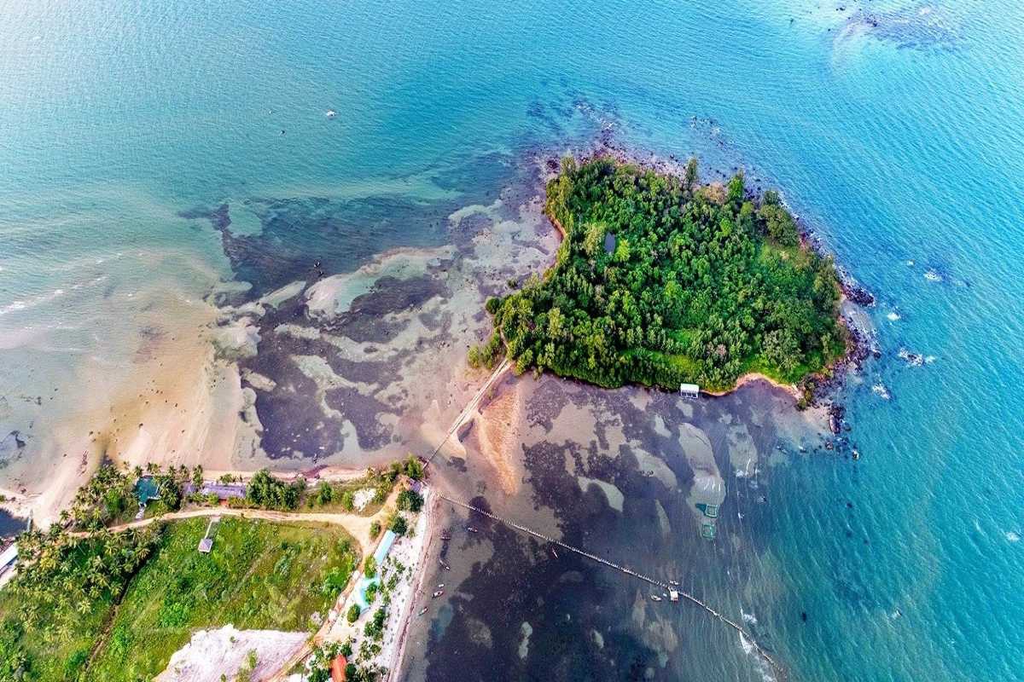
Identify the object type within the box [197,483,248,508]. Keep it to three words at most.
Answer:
house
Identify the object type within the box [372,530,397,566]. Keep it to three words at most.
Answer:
house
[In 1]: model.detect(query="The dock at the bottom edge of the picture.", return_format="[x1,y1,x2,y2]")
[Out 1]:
[438,494,780,670]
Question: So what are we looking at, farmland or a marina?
marina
